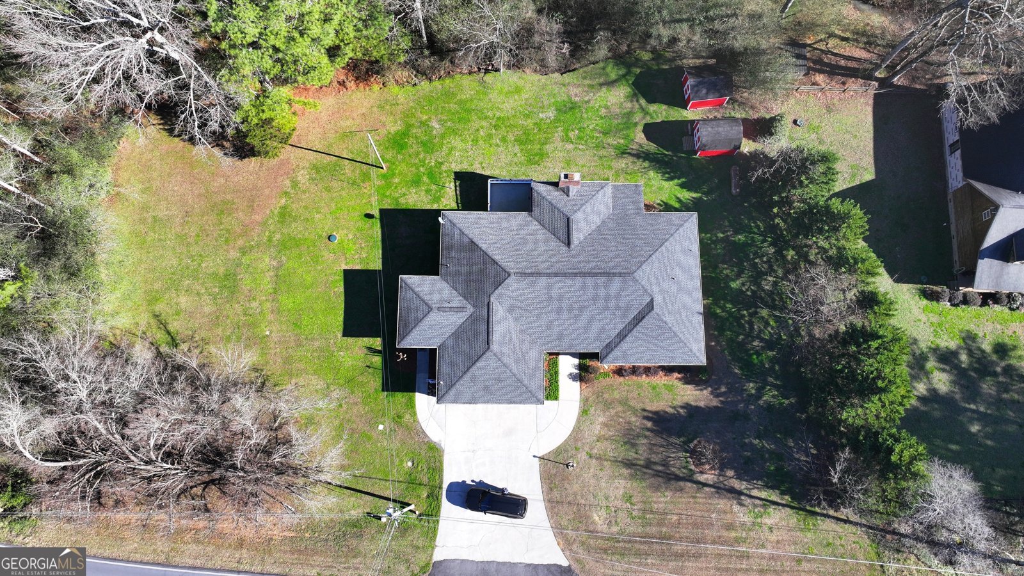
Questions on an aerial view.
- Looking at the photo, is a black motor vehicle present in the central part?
No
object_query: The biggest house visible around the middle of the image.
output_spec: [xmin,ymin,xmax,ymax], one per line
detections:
[394,172,708,405]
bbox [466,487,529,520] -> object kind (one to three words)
car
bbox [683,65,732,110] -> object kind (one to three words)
shed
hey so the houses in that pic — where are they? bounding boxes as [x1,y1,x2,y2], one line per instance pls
[934,58,1024,294]
[394,172,708,405]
